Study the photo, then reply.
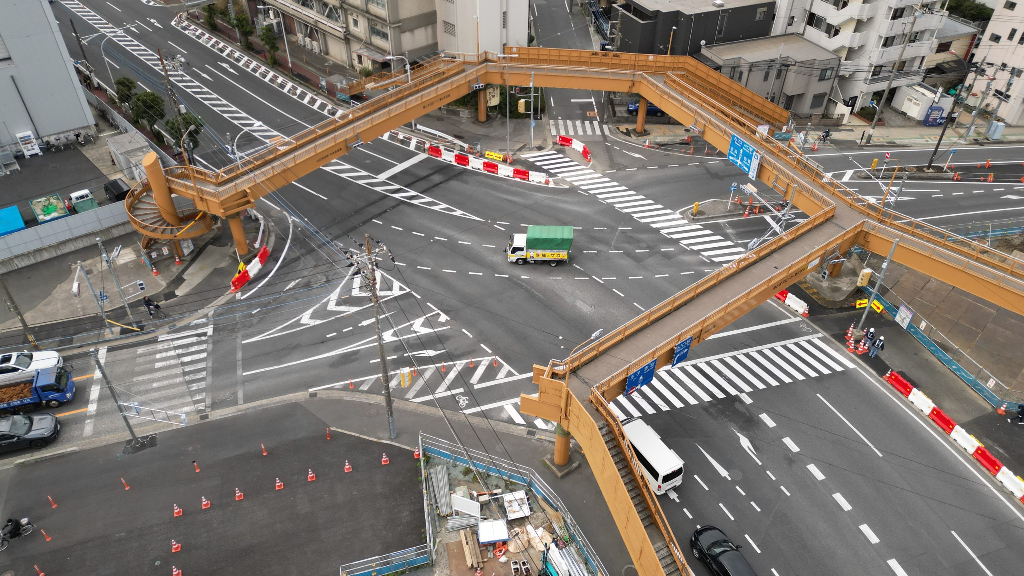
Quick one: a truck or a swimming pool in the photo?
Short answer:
truck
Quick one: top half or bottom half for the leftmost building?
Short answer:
top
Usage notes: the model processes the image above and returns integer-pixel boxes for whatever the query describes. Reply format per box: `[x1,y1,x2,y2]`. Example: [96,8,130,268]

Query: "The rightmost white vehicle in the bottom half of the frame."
[618,412,688,492]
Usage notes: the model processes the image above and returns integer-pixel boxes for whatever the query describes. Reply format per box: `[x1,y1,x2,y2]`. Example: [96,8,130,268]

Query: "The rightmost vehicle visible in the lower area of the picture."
[693,527,765,576]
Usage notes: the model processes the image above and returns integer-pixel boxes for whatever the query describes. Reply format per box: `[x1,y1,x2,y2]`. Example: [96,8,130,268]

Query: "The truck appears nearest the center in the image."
[508,227,575,265]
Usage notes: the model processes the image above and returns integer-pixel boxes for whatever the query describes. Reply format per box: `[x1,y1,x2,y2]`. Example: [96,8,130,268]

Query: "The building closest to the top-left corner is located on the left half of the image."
[0,0,97,157]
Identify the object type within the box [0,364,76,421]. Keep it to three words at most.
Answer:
truck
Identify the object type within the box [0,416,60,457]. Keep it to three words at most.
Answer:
car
